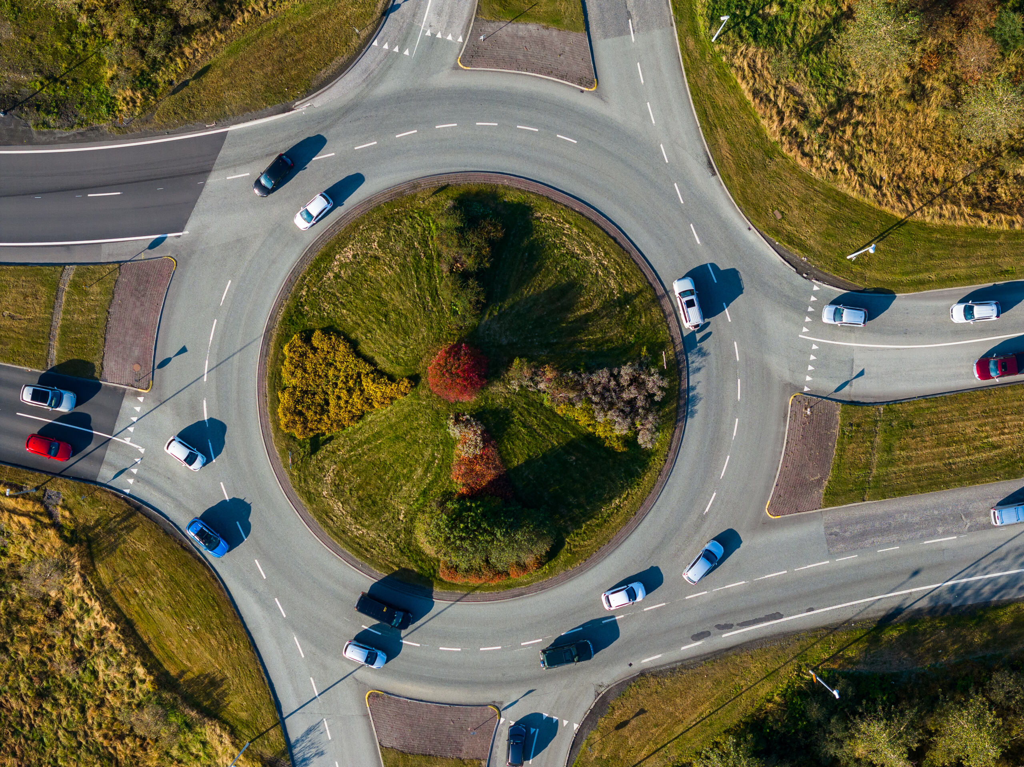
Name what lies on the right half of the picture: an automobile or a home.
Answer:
automobile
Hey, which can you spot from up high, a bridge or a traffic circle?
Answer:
traffic circle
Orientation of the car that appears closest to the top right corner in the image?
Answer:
from side to side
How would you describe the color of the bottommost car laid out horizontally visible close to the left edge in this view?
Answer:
red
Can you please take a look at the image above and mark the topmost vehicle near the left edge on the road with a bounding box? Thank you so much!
[20,385,77,412]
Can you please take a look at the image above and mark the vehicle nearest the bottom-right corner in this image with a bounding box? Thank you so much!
[988,502,1024,526]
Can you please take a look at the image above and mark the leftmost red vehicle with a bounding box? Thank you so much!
[25,434,73,461]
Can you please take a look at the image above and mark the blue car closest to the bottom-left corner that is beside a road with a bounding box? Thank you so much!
[186,518,230,558]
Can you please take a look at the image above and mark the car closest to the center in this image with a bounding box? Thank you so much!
[674,276,703,328]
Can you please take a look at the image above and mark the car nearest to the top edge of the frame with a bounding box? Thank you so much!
[255,155,293,196]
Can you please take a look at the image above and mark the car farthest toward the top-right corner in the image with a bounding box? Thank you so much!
[948,301,1001,324]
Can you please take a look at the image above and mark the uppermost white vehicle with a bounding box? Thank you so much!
[295,192,333,230]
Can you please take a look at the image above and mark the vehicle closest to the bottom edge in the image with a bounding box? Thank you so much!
[505,724,527,767]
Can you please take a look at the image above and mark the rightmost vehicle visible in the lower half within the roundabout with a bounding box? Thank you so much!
[683,540,723,584]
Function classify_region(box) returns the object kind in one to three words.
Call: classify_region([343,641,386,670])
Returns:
car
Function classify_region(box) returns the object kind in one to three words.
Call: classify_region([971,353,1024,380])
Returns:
truck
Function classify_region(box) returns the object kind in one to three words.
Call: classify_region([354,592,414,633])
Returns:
van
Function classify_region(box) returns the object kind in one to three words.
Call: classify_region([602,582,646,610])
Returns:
car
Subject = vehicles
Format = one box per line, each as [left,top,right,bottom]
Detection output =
[164,436,207,471]
[25,434,73,461]
[255,155,293,196]
[343,641,386,670]
[674,276,703,328]
[354,592,414,633]
[20,385,77,412]
[683,540,723,584]
[186,518,230,558]
[821,303,869,327]
[971,353,1024,380]
[541,641,594,669]
[505,724,527,767]
[988,502,1024,526]
[948,301,1001,324]
[602,582,646,610]
[295,192,333,230]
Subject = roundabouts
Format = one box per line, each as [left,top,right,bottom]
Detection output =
[158,74,784,700]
